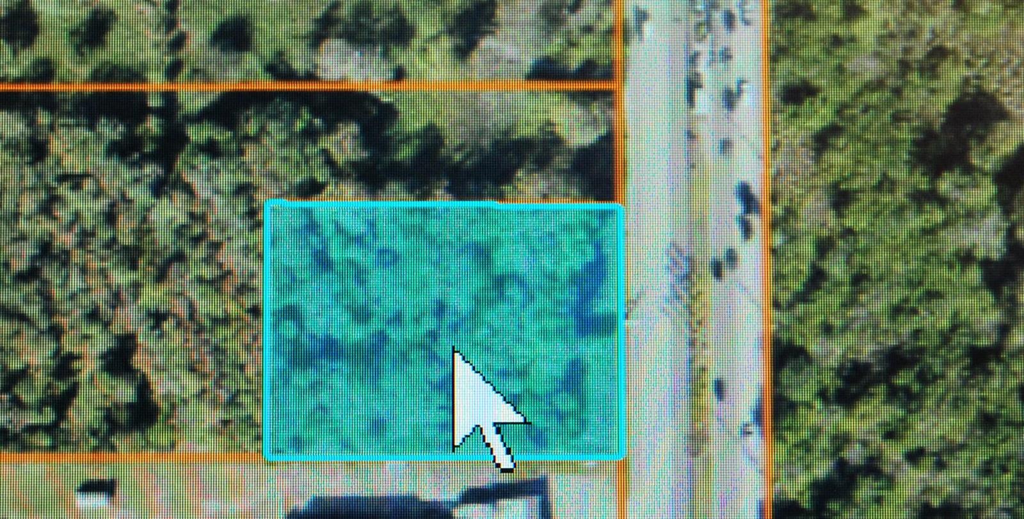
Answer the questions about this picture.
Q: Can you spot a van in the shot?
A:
No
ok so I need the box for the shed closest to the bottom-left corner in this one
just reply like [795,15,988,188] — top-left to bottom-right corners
[75,494,106,510]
